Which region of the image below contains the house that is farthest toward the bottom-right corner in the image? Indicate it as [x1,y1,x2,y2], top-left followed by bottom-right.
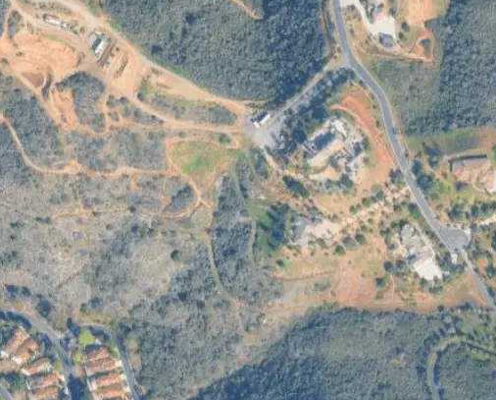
[392,217,429,266]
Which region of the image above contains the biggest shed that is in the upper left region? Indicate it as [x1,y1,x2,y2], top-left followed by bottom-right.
[87,31,117,54]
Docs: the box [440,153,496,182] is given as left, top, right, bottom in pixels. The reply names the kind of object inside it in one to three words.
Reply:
house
